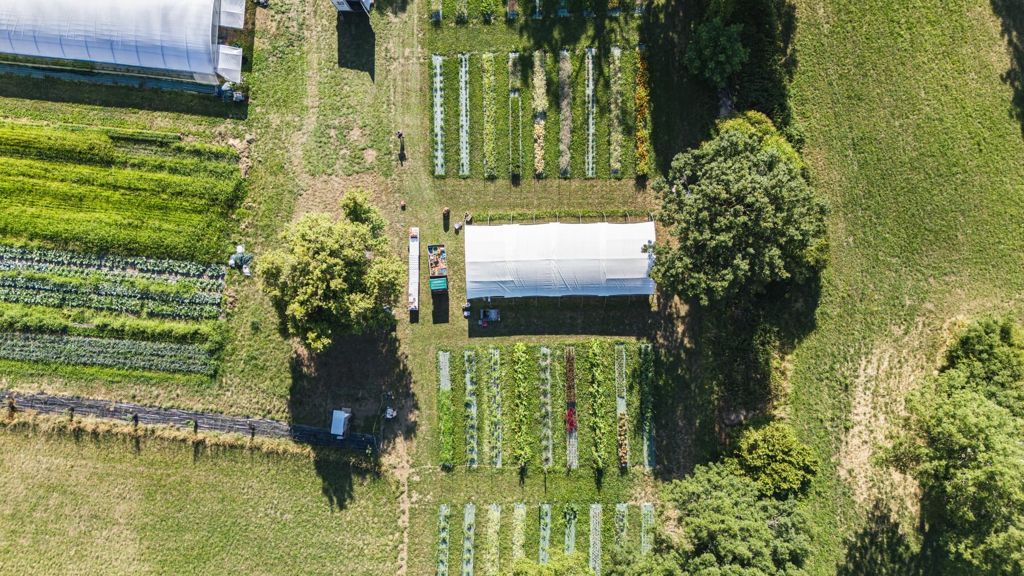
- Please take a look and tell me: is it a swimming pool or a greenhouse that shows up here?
greenhouse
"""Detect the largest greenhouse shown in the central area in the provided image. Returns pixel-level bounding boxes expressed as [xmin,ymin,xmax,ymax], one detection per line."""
[463,212,659,307]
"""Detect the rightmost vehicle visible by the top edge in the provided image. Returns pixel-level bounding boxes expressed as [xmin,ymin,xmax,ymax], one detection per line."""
[330,0,373,21]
